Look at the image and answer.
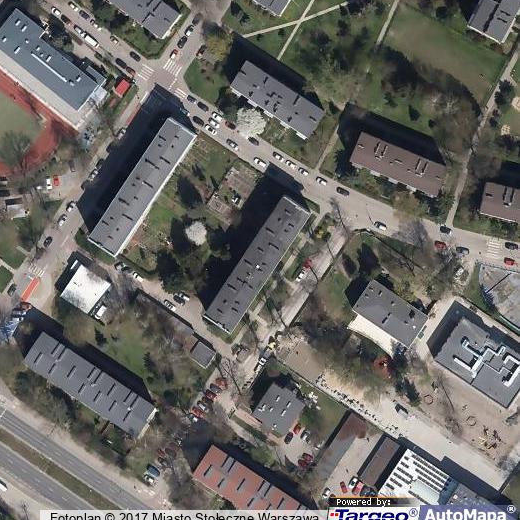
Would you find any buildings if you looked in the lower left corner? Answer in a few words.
Yes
